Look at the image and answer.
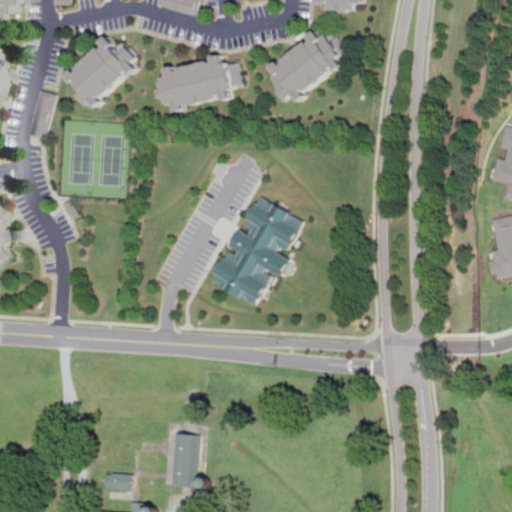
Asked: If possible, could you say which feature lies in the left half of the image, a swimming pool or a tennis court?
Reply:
tennis court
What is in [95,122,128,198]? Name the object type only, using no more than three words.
tennis court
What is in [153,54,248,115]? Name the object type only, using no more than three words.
building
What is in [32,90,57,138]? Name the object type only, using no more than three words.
building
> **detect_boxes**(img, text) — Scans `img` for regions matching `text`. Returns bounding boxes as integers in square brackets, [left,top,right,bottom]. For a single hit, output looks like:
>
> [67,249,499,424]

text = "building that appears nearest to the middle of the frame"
[211,194,306,306]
